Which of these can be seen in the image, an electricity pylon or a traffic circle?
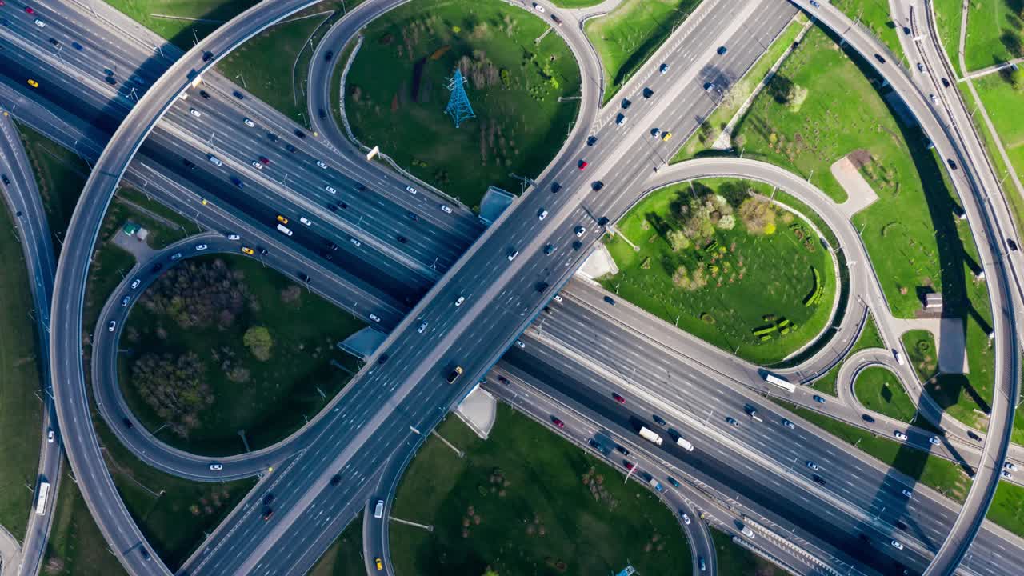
electricity pylon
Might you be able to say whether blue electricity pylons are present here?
Yes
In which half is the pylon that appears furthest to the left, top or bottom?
top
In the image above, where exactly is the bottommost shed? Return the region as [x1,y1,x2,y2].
[926,293,946,310]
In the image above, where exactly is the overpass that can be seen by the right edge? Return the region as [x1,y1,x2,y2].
[791,0,1020,576]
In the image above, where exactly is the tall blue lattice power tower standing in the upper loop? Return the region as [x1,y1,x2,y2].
[443,69,477,129]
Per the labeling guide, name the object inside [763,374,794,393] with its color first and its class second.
white vehicle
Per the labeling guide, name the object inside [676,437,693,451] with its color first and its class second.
white vehicle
